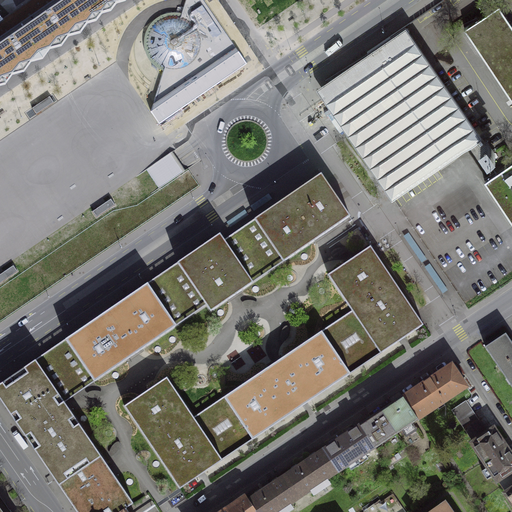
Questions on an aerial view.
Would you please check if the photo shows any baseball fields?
No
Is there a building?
Yes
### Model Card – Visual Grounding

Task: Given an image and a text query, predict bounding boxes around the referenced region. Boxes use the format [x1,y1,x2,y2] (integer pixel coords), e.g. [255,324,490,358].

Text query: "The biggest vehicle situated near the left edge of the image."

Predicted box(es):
[13,430,29,449]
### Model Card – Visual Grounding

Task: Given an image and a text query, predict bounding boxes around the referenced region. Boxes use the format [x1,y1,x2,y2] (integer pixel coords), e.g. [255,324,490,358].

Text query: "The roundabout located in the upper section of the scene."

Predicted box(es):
[222,116,272,166]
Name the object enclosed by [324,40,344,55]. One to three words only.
vehicle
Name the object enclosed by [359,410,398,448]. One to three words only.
house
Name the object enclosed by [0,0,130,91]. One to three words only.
building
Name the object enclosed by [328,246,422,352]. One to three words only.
building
